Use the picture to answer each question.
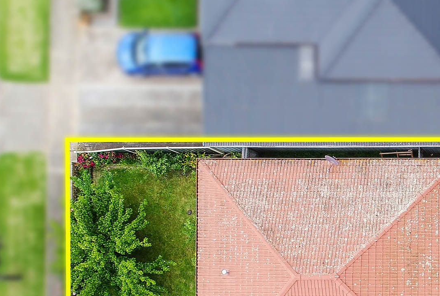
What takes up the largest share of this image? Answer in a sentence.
What you mostly see from above here is buildings.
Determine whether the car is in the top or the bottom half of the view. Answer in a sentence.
The car sits in the top half of the picture.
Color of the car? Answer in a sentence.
The color of the car is blue.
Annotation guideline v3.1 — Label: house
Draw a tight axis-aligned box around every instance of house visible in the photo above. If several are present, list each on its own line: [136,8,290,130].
[198,0,440,155]
[196,158,440,296]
